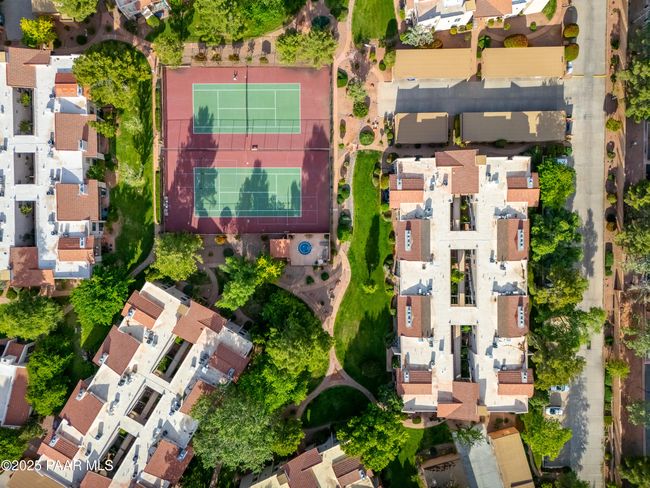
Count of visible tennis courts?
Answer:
2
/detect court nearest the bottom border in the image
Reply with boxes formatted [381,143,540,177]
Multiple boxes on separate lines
[164,150,331,234]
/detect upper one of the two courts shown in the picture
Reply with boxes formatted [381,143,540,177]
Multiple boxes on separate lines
[164,65,331,150]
